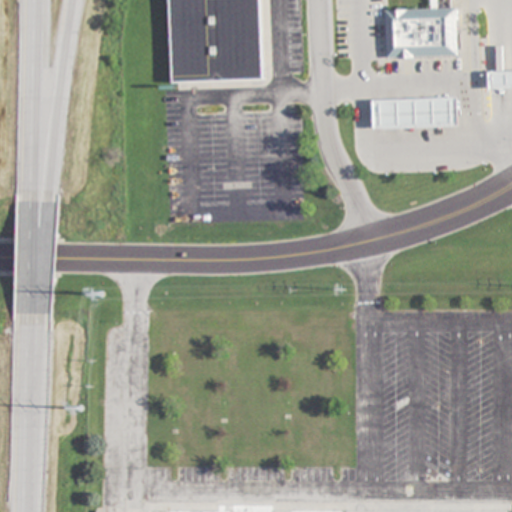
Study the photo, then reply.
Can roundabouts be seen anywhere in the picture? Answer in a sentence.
No, no roundabout is visible in the scene.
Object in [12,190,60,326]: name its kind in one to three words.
overpass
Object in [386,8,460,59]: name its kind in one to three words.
building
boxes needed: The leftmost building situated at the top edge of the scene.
[168,0,266,83]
